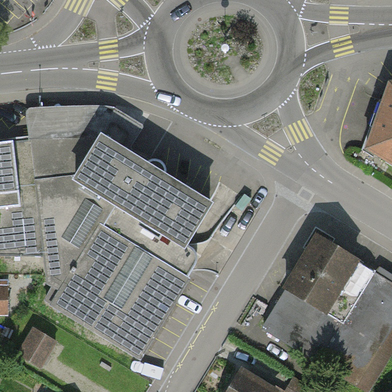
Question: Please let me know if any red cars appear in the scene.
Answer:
No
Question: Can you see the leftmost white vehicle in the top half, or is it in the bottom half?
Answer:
bottom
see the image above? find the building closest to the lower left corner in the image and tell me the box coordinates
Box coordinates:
[22,327,58,368]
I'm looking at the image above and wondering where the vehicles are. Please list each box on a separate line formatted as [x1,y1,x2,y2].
[268,342,288,360]
[158,91,181,105]
[234,350,256,364]
[178,296,202,312]
[170,2,192,19]
[252,186,268,208]
[10,100,29,116]
[239,206,256,229]
[130,361,165,381]
[221,212,238,236]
